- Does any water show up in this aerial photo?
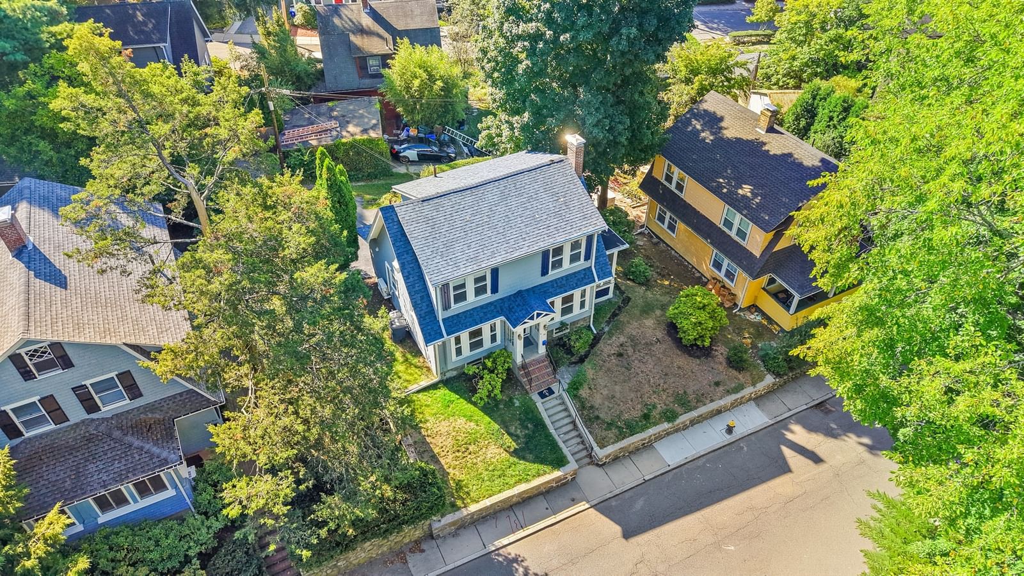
No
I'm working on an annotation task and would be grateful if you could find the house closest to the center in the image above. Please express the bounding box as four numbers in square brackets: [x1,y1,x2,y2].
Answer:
[359,133,633,386]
